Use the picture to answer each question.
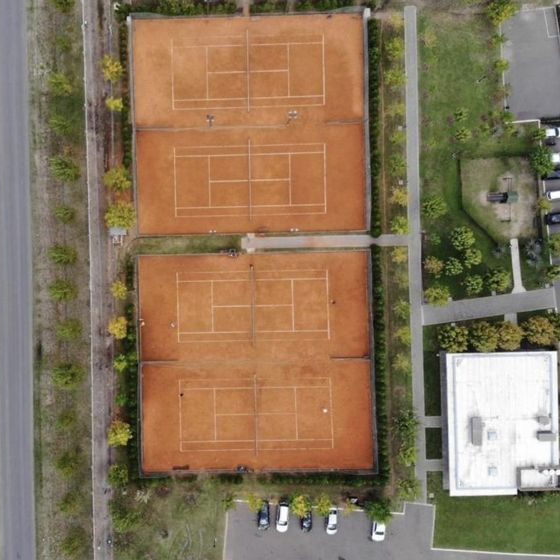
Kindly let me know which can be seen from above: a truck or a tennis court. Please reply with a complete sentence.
I can see a tennis court in this picture.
